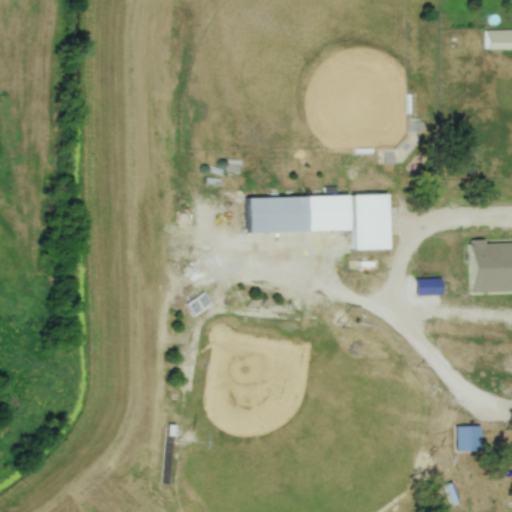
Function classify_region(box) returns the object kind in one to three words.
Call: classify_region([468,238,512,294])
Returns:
house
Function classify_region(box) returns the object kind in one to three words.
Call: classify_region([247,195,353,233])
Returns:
barn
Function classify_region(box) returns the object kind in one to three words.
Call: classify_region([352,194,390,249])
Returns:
barn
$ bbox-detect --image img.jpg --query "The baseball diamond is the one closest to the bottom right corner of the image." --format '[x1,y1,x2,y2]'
[179,312,428,512]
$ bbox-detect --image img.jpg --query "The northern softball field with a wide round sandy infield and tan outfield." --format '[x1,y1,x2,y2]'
[193,0,407,151]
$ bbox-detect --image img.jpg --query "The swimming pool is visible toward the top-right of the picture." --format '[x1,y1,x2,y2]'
[484,13,500,27]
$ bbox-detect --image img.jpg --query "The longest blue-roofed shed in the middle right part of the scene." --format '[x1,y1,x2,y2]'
[414,278,446,295]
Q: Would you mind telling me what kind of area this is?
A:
sports ground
